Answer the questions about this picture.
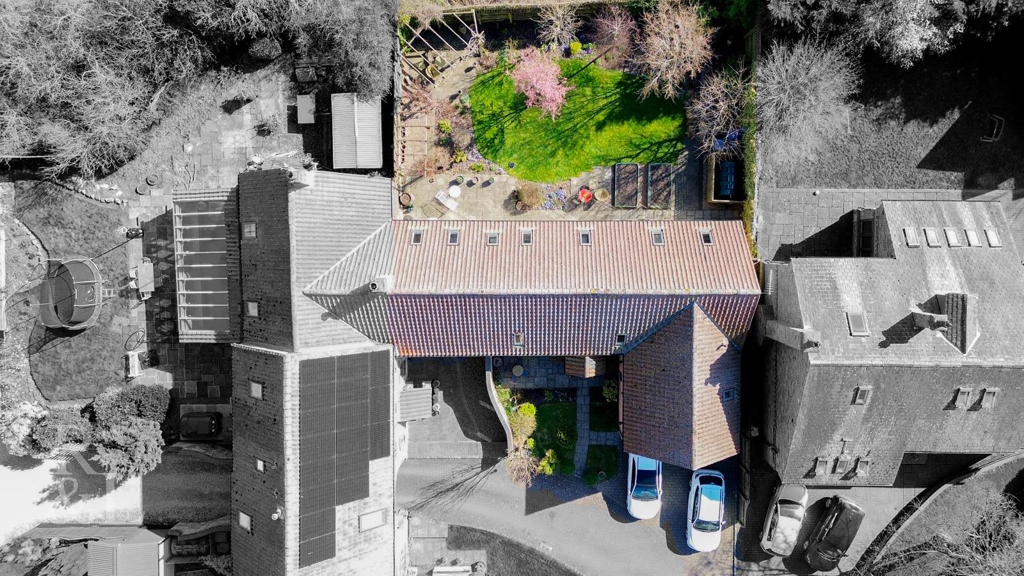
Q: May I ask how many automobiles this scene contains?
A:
4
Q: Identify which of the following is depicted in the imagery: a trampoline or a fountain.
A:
trampoline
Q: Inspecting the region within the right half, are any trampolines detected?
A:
No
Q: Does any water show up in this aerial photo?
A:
No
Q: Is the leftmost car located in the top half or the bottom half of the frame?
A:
bottom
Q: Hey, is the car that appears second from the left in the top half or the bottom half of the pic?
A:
bottom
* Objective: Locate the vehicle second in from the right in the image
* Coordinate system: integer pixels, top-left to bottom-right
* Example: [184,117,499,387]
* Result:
[759,482,809,560]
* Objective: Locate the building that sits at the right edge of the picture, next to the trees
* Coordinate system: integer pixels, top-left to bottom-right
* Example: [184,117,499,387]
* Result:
[747,200,1024,486]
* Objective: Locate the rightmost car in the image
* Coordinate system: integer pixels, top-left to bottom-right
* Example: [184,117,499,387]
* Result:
[804,491,865,571]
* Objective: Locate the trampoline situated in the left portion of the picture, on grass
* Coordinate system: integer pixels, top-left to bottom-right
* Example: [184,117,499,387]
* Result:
[30,255,121,336]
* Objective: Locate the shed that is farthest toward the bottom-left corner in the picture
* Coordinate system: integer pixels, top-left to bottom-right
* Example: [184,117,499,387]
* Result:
[88,525,185,576]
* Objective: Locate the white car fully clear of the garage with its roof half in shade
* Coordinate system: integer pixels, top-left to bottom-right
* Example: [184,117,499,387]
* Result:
[685,468,726,550]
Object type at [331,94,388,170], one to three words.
shed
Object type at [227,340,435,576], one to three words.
house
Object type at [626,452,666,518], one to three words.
car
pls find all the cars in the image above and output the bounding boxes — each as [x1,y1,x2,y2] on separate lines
[626,452,666,518]
[685,468,726,550]
[804,491,865,571]
[759,482,809,560]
